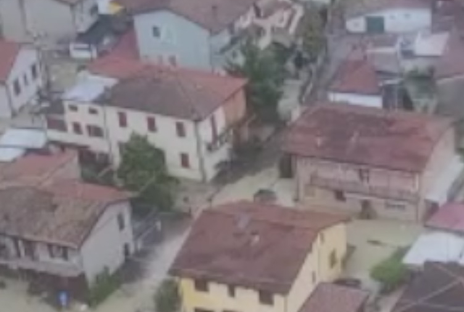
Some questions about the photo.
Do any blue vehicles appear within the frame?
No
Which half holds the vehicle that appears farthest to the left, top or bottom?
top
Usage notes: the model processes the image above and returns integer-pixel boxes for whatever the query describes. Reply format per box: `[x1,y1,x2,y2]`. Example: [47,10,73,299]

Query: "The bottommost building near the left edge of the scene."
[0,177,133,295]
